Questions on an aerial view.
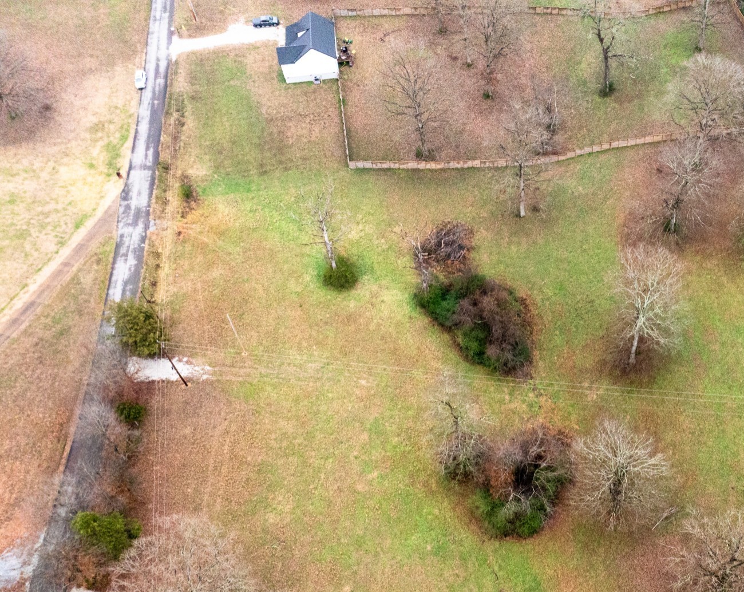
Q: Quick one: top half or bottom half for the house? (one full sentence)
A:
It is in the top half that the house appears.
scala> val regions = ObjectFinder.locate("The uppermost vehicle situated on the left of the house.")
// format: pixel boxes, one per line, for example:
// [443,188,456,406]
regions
[252,16,278,29]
